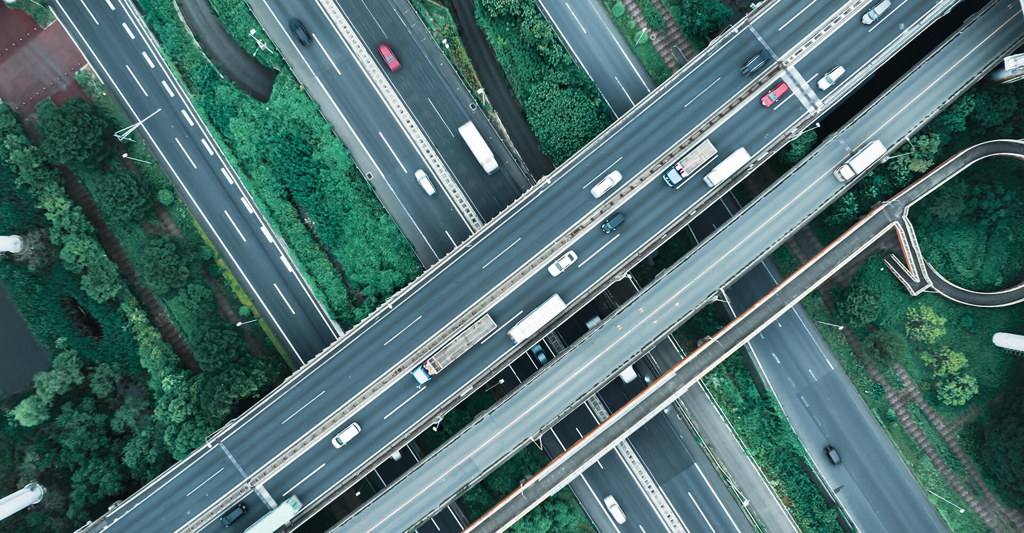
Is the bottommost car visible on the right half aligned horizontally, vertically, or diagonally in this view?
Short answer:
diagonally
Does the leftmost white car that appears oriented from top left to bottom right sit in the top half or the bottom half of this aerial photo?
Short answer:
top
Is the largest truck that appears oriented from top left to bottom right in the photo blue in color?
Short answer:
No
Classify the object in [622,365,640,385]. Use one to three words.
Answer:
vehicle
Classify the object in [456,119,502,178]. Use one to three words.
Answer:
truck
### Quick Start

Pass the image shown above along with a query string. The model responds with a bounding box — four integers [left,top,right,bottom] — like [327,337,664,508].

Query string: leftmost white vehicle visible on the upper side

[415,169,437,196]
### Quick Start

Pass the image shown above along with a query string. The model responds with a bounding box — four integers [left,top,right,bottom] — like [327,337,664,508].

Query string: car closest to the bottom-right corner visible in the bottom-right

[822,442,843,468]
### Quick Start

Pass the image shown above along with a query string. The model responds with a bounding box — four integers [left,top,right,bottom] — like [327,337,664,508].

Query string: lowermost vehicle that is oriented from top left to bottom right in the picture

[605,494,628,524]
